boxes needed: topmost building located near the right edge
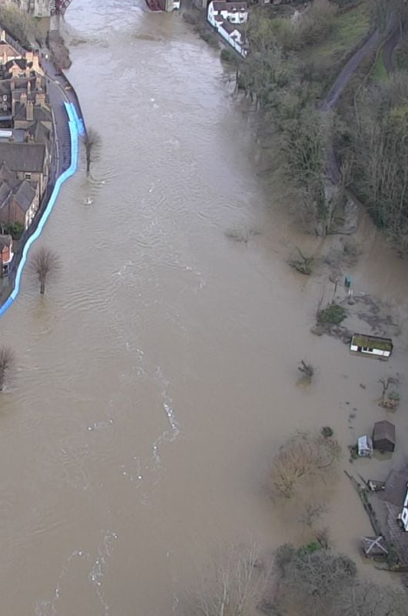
[349,328,395,361]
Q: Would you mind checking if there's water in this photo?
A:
Yes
